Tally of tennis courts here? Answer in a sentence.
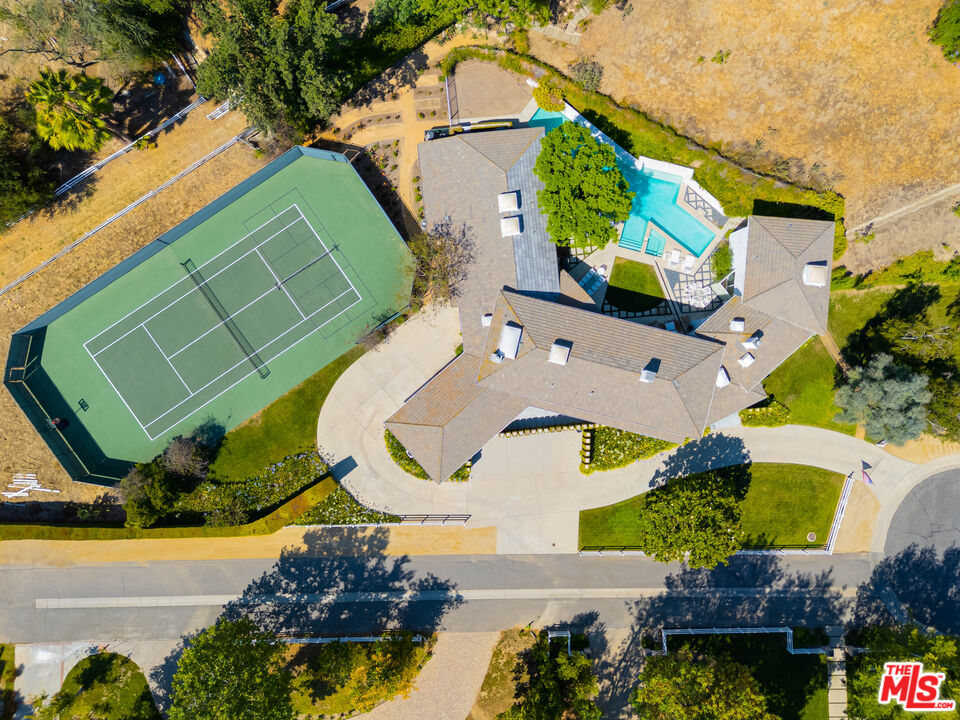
I count just 1 tennis court.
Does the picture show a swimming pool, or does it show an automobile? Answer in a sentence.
Looking from above, you can make out a swimming pool.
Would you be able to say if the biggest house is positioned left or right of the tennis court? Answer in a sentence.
It is on the right side of the tennis court that the biggest house is positioned.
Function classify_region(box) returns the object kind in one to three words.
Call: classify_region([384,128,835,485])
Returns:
house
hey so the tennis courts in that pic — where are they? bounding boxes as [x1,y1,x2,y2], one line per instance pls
[22,156,418,483]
